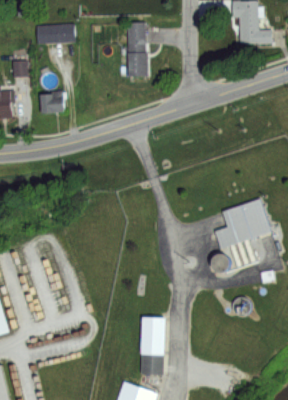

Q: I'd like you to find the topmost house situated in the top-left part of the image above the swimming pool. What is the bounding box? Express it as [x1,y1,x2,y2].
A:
[38,24,77,45]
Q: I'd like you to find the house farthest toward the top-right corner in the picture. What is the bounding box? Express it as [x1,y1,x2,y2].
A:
[234,0,274,46]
